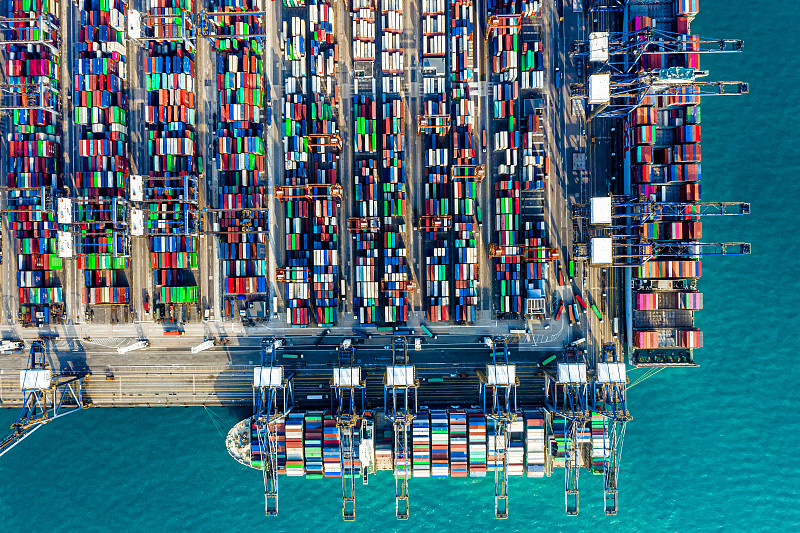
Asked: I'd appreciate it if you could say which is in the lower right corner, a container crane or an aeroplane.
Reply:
container crane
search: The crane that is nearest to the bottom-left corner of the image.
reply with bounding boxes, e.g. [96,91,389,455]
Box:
[0,345,98,464]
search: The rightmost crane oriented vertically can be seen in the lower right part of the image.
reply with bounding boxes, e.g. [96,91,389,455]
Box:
[570,338,633,516]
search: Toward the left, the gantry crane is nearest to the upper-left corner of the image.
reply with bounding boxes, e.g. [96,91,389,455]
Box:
[0,17,65,59]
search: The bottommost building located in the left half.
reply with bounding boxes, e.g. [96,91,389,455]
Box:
[245,302,267,317]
